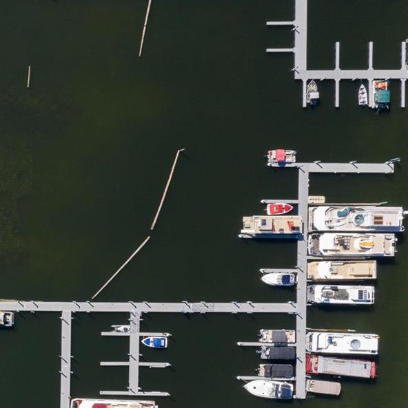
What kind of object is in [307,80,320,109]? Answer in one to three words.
boat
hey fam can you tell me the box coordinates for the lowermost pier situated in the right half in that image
[236,312,355,399]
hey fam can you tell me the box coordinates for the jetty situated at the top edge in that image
[265,0,408,108]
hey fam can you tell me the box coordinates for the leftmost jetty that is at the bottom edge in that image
[58,311,75,408]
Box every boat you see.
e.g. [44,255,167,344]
[263,202,293,214]
[301,330,380,353]
[303,284,376,304]
[0,311,14,326]
[68,397,155,408]
[109,325,131,332]
[255,329,294,342]
[303,261,378,280]
[357,84,367,109]
[141,337,167,348]
[303,379,341,395]
[300,354,375,378]
[307,80,320,109]
[261,272,297,285]
[252,364,293,377]
[304,207,402,231]
[303,233,395,256]
[253,347,295,360]
[265,149,297,164]
[237,215,303,235]
[371,82,392,113]
[242,380,294,398]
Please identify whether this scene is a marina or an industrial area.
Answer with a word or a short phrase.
marina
